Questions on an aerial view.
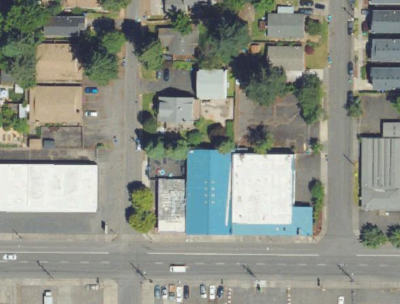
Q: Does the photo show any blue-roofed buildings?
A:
Yes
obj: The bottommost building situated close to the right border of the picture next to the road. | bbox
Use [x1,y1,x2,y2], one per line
[361,121,400,211]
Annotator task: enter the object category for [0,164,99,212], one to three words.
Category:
building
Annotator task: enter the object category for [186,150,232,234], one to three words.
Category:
building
